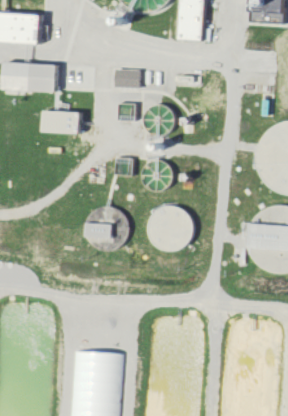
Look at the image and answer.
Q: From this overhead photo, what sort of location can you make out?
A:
industrial area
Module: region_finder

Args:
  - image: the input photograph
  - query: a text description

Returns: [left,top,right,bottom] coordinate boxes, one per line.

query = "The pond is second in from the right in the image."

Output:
[146,314,205,416]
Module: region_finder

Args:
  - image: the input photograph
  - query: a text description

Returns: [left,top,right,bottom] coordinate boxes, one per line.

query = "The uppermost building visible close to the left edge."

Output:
[0,12,44,44]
